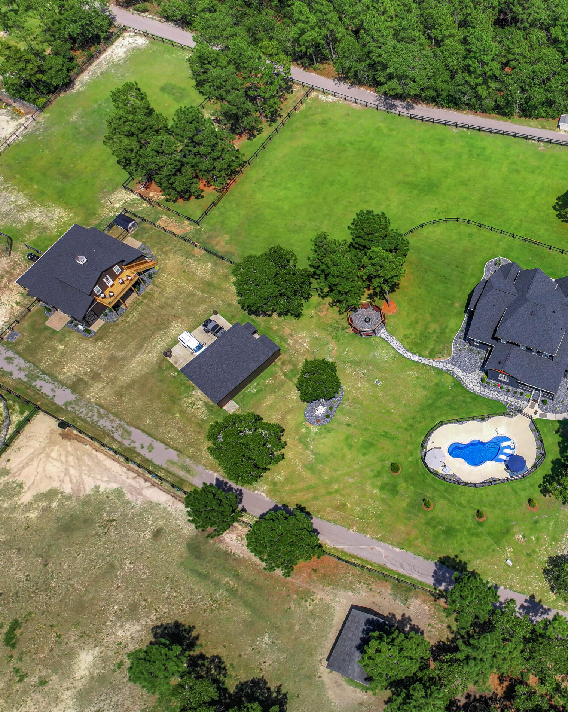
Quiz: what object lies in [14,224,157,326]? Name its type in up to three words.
barn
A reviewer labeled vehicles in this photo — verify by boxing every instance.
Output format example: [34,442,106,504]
[203,320,226,340]
[26,250,38,261]
[178,331,205,355]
